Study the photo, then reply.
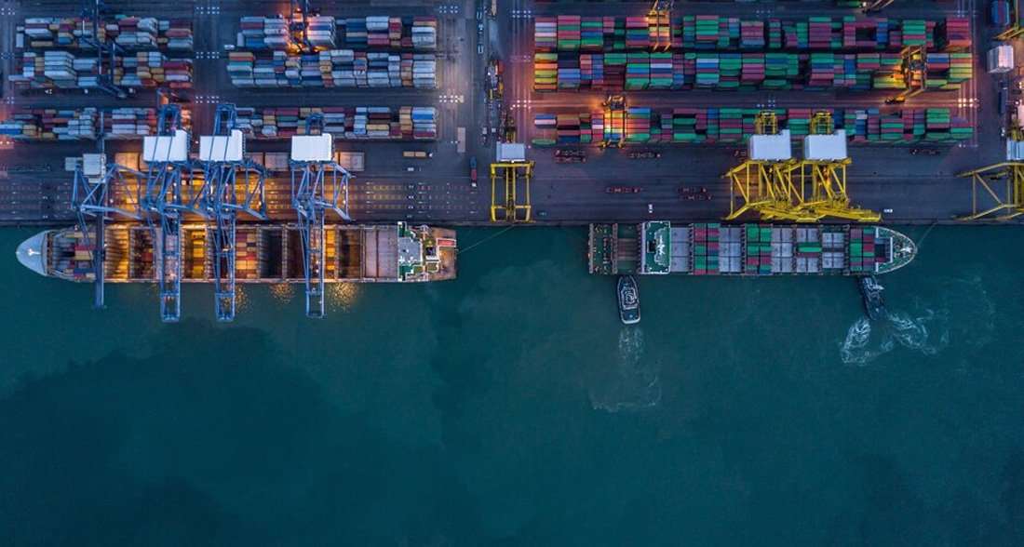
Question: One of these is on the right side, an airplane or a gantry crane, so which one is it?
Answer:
gantry crane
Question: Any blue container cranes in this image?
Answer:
Yes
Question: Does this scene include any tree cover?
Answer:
No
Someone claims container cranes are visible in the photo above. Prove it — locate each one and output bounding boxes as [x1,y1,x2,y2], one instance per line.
[886,44,924,100]
[489,108,537,221]
[648,0,673,55]
[292,100,358,323]
[951,141,1024,221]
[195,100,277,323]
[286,0,318,54]
[985,0,1024,40]
[134,100,227,323]
[605,97,627,153]
[59,116,165,310]
[718,106,825,225]
[80,0,119,57]
[767,106,890,225]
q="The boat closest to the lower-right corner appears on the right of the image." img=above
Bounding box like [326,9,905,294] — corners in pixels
[859,277,884,320]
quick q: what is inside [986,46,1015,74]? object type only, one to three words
shed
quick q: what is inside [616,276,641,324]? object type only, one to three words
boat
